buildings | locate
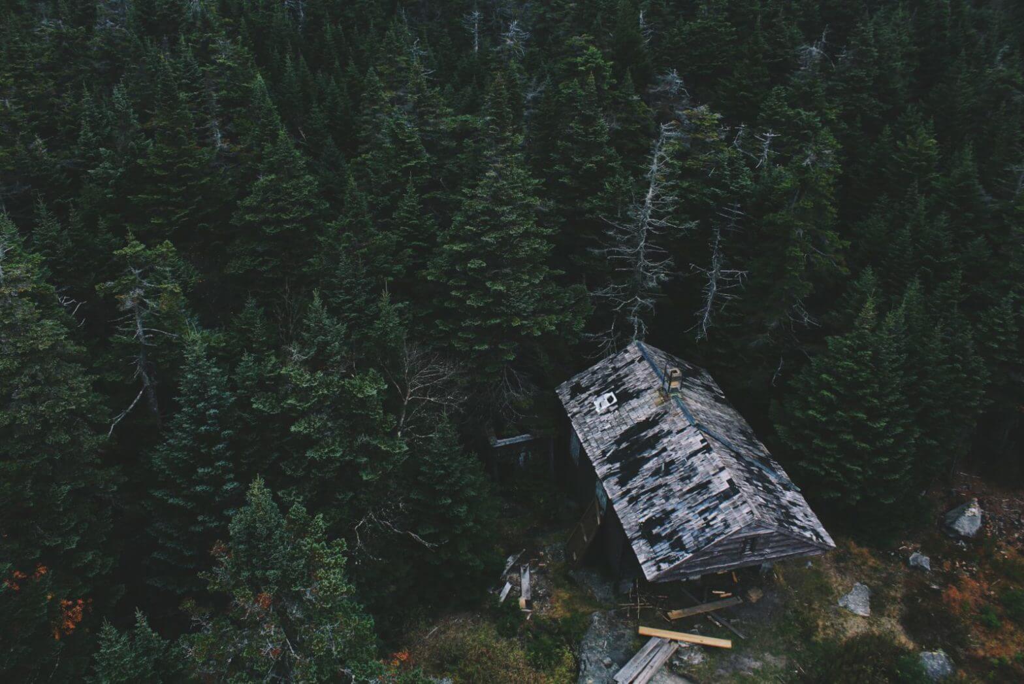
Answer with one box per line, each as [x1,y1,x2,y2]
[483,416,554,497]
[557,341,839,619]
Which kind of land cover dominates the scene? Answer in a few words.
trees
